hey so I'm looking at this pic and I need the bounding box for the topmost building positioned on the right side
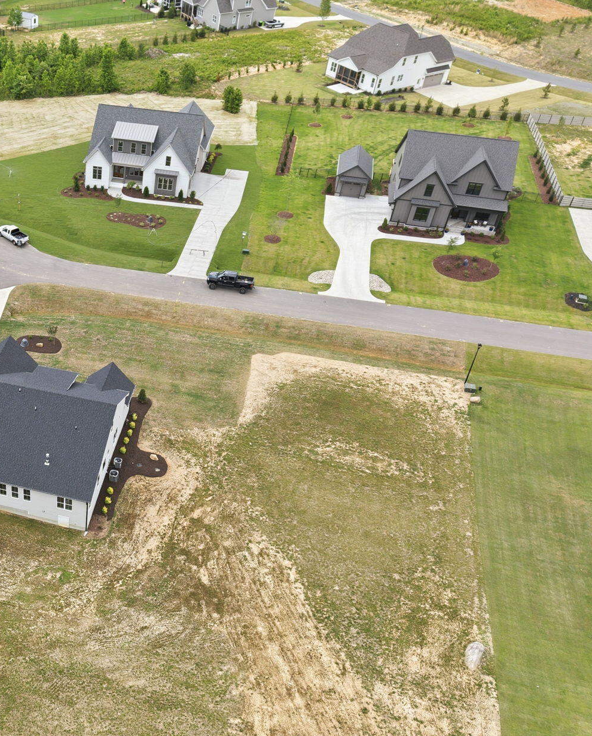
[325,23,459,93]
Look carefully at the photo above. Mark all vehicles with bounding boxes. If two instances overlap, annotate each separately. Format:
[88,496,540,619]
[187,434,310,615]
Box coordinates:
[264,18,286,28]
[205,270,258,296]
[0,225,32,247]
